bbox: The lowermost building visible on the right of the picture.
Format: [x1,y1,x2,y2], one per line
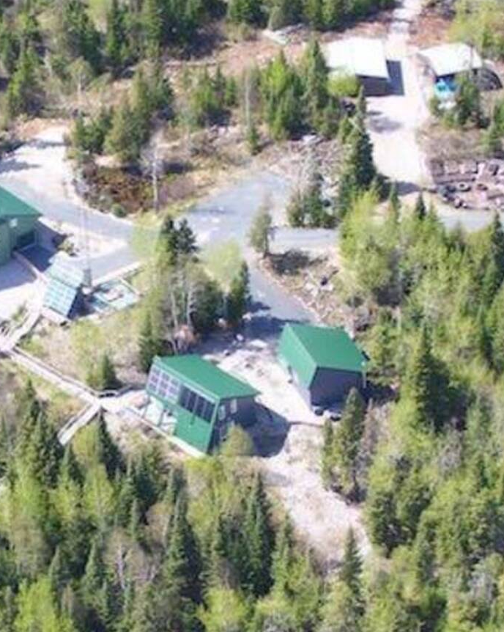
[276,323,365,412]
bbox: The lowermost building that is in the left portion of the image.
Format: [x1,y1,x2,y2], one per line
[124,355,266,457]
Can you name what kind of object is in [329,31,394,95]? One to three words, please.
shed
